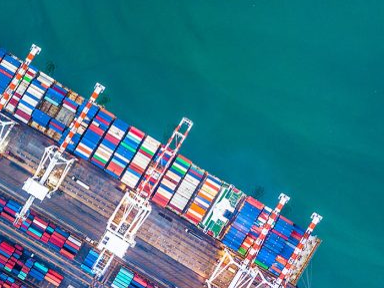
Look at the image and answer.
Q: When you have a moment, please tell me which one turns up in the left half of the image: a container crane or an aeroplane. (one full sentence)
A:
The one visible in the left half of the image is a container crane.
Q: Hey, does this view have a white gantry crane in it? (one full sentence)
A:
Yes, a white gantry crane appears in the view.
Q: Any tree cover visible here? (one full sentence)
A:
No, the picture contains no tree cover.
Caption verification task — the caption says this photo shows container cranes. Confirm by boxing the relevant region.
[0,42,40,156]
[245,212,324,288]
[15,81,106,225]
[201,192,290,288]
[92,118,193,273]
